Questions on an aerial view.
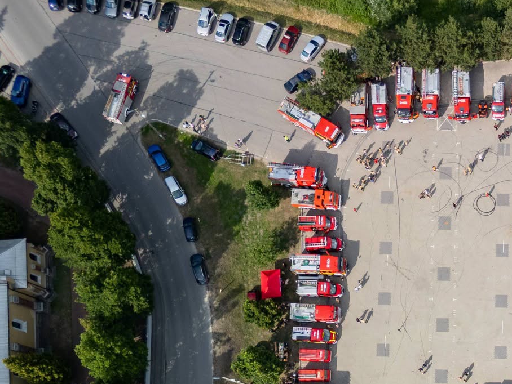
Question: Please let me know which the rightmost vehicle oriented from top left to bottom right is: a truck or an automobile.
truck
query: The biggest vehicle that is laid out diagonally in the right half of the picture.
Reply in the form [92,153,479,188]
[273,91,347,150]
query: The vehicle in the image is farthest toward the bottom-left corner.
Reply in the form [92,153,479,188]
[189,253,209,286]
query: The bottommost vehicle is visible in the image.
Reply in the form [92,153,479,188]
[297,367,335,384]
